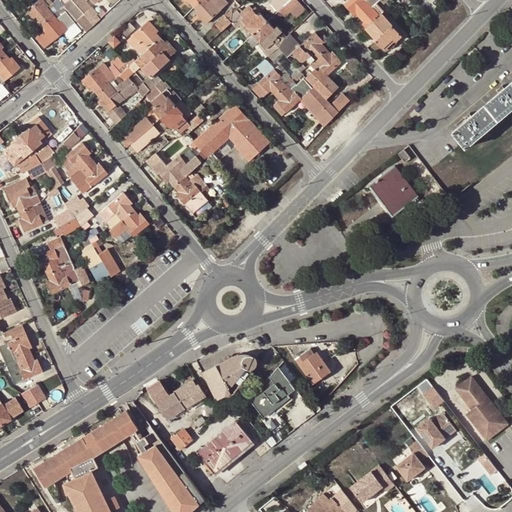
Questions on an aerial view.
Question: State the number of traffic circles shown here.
2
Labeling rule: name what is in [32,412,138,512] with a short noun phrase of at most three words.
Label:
building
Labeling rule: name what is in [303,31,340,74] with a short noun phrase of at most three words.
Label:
house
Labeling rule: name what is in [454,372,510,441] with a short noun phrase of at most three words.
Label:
house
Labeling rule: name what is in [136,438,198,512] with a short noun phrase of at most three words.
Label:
building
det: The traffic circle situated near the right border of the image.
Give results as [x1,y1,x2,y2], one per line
[406,254,486,336]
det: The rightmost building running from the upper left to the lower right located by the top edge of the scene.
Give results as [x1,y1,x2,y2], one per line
[347,0,402,52]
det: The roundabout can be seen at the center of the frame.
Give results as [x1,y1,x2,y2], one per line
[198,267,264,334]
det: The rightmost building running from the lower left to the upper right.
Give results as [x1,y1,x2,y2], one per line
[452,88,512,150]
